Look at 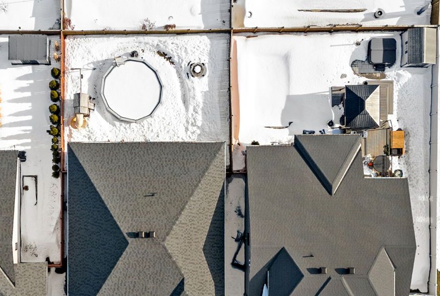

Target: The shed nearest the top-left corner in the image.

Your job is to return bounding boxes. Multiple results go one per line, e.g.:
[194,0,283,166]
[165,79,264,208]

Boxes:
[11,34,52,67]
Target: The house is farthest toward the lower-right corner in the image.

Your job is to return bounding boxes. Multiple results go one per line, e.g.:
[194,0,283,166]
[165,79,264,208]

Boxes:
[243,134,416,296]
